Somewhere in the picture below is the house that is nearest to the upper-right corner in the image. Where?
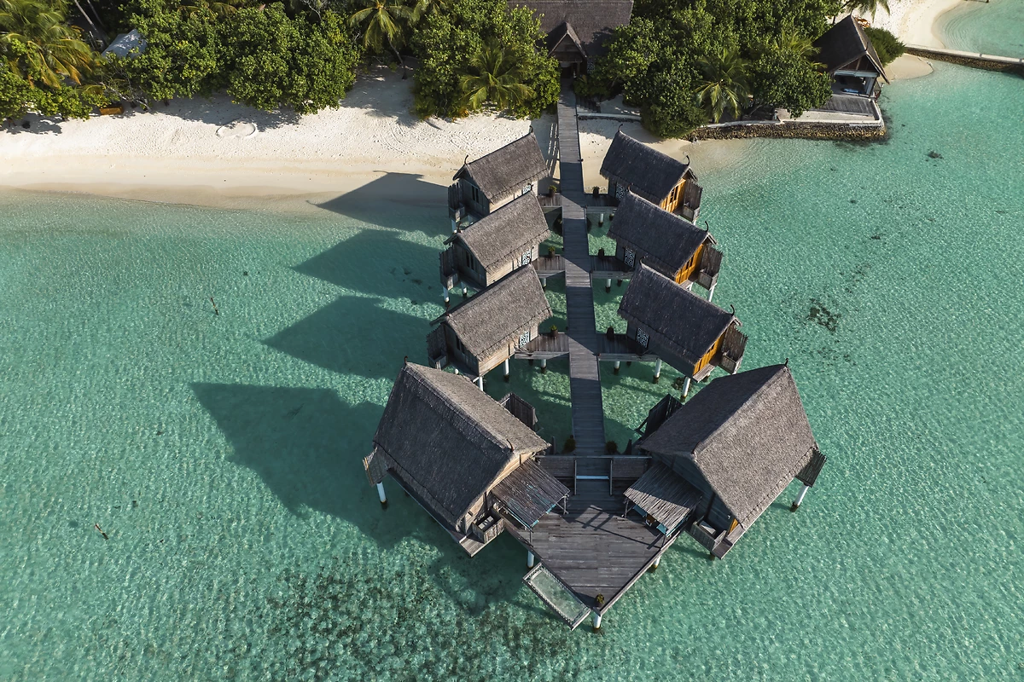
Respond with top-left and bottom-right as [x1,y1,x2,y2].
[813,10,887,97]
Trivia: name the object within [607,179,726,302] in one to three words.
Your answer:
shed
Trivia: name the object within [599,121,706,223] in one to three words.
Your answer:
shed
